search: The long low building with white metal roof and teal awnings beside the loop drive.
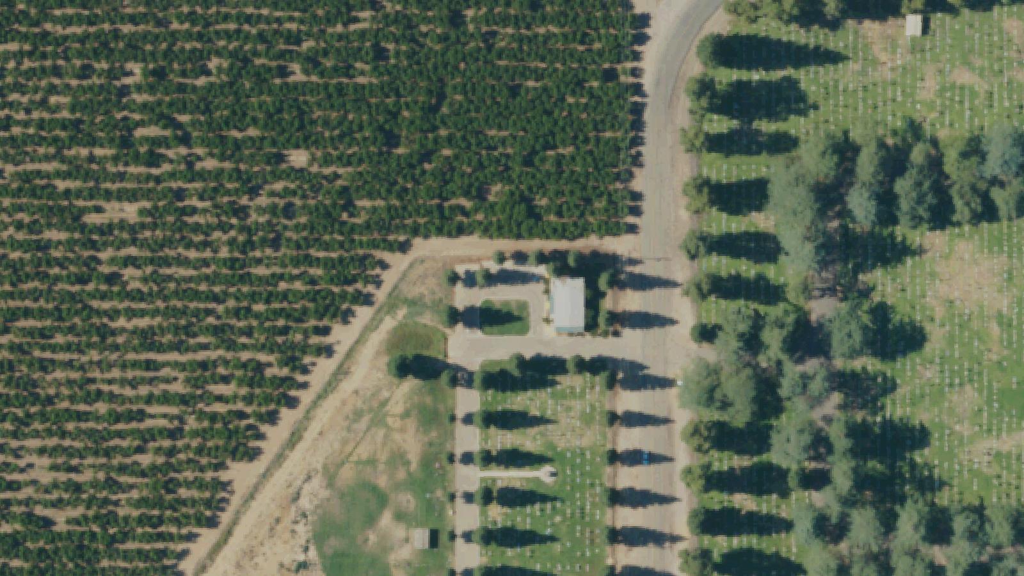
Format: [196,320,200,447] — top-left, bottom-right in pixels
[548,277,584,338]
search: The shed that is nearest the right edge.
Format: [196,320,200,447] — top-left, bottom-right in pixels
[906,14,922,35]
